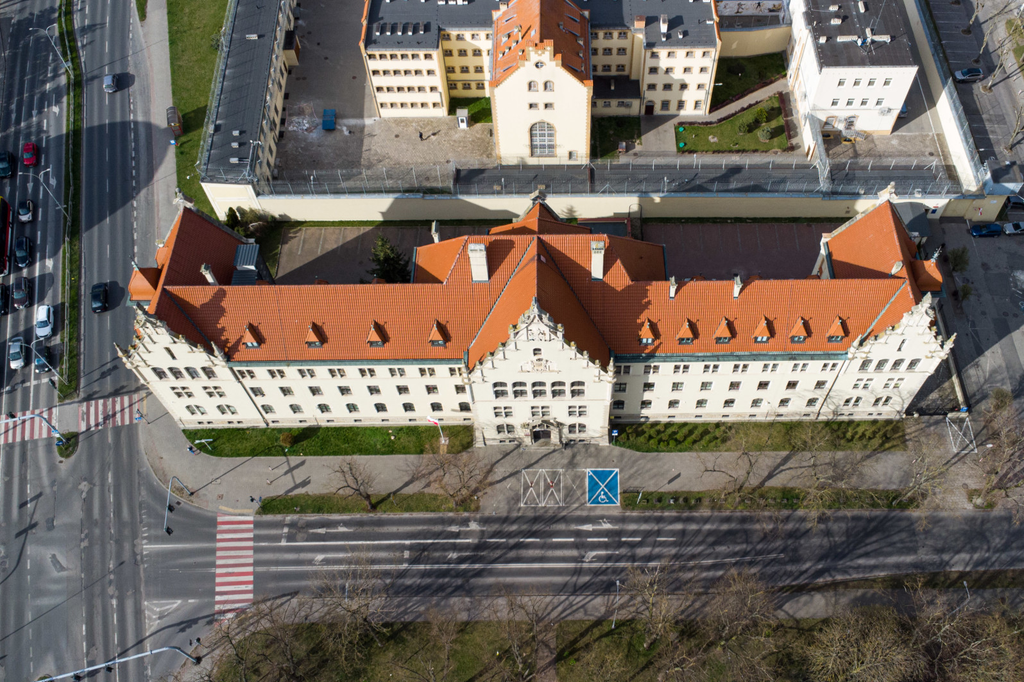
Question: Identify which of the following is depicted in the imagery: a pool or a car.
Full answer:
Looking from above, you can make out a car.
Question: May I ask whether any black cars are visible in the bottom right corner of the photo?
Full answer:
No, there is no black car in the bottom right corner of the photo.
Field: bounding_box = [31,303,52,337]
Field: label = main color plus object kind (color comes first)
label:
white car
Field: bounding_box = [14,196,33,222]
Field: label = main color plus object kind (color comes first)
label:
black car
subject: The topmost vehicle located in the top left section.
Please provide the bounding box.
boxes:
[100,70,117,91]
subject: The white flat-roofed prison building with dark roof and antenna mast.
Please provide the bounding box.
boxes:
[772,0,921,145]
